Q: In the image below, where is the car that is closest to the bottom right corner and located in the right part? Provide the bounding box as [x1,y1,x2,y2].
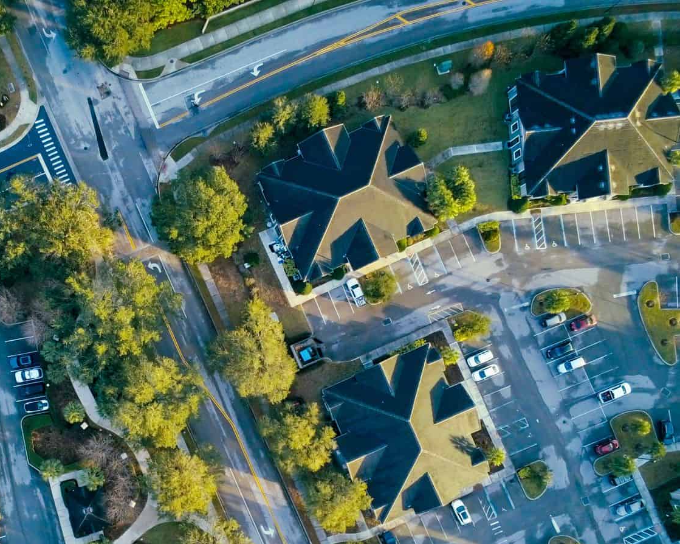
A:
[615,498,644,515]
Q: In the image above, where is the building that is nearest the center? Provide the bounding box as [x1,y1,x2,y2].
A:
[258,115,437,281]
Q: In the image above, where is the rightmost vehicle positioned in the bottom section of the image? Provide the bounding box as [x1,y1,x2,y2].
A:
[657,419,675,446]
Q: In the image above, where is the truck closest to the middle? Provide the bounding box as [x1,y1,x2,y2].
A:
[345,277,367,310]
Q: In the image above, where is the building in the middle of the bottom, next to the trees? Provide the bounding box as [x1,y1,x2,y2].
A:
[322,342,491,524]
